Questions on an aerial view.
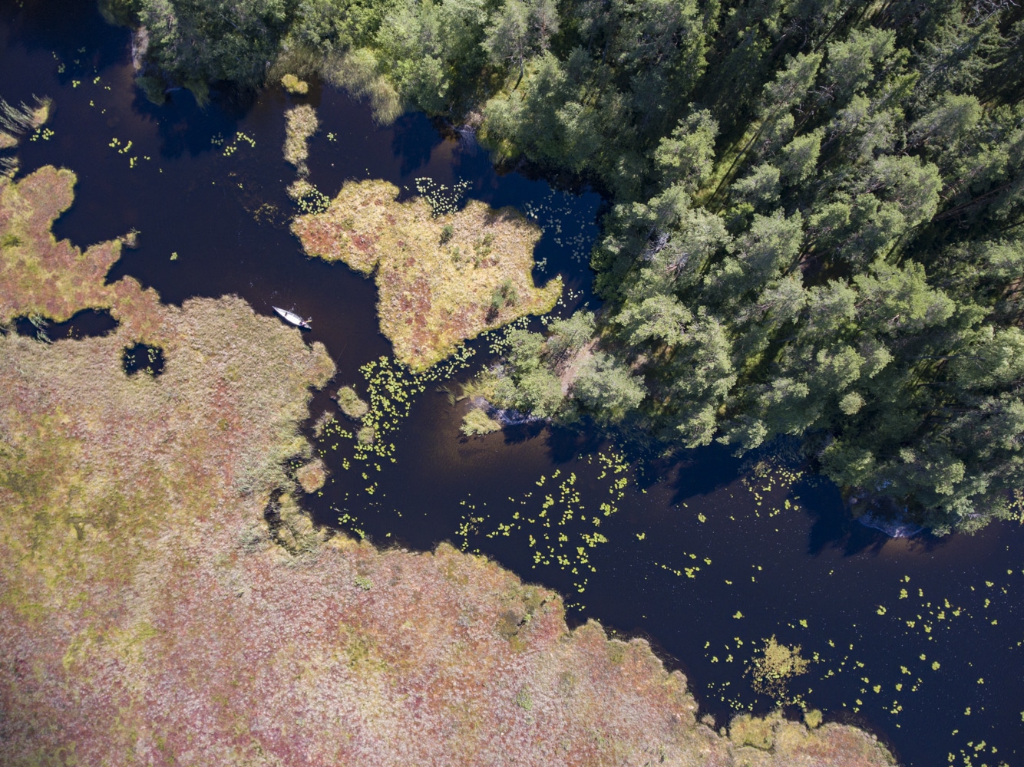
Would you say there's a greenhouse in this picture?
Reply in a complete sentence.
No, the scene contains no greenhouse.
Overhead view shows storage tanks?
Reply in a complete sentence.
No, this view has no storage tank in it.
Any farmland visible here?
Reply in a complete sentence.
No, the picture contains no farmland.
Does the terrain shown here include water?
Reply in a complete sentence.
Yes, there is water in the image.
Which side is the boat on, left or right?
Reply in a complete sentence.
The boat is on the left side of the image.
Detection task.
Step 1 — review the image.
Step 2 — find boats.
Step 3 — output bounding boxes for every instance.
[271,306,311,329]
